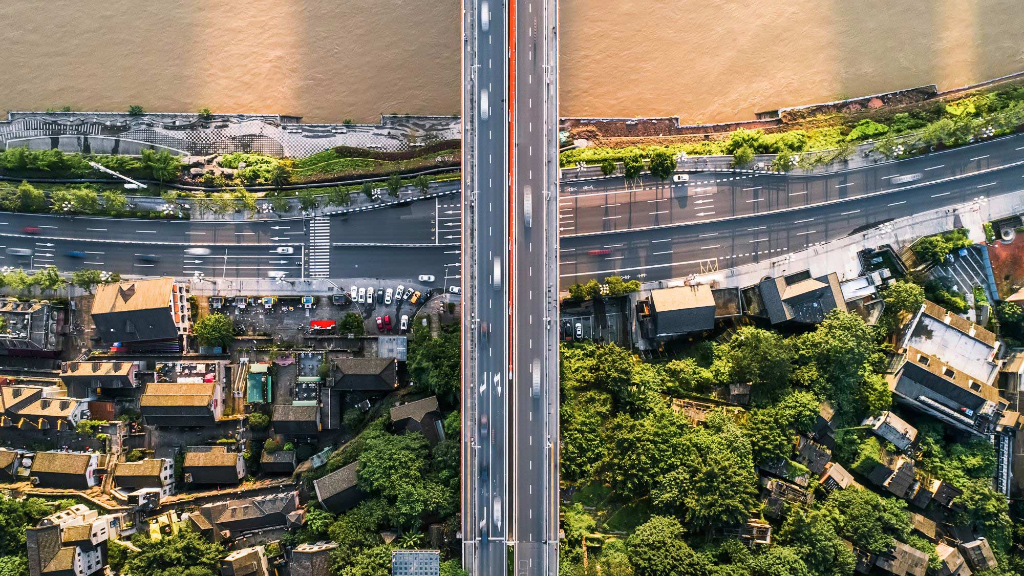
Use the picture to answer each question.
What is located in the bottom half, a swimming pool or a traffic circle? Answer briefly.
swimming pool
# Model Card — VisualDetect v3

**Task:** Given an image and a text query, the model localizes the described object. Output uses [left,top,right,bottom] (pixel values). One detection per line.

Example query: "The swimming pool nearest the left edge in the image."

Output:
[247,372,273,396]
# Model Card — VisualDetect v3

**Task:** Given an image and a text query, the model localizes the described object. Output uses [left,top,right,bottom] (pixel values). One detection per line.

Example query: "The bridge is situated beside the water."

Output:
[458,0,566,576]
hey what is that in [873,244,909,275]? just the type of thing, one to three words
building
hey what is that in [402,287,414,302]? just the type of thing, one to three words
vehicle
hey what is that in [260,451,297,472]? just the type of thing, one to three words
house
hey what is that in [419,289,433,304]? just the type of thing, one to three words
car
